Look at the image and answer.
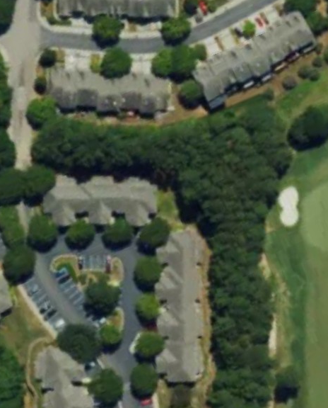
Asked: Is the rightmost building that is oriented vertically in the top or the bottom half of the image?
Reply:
bottom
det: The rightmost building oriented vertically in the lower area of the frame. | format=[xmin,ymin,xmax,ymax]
[156,228,203,384]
